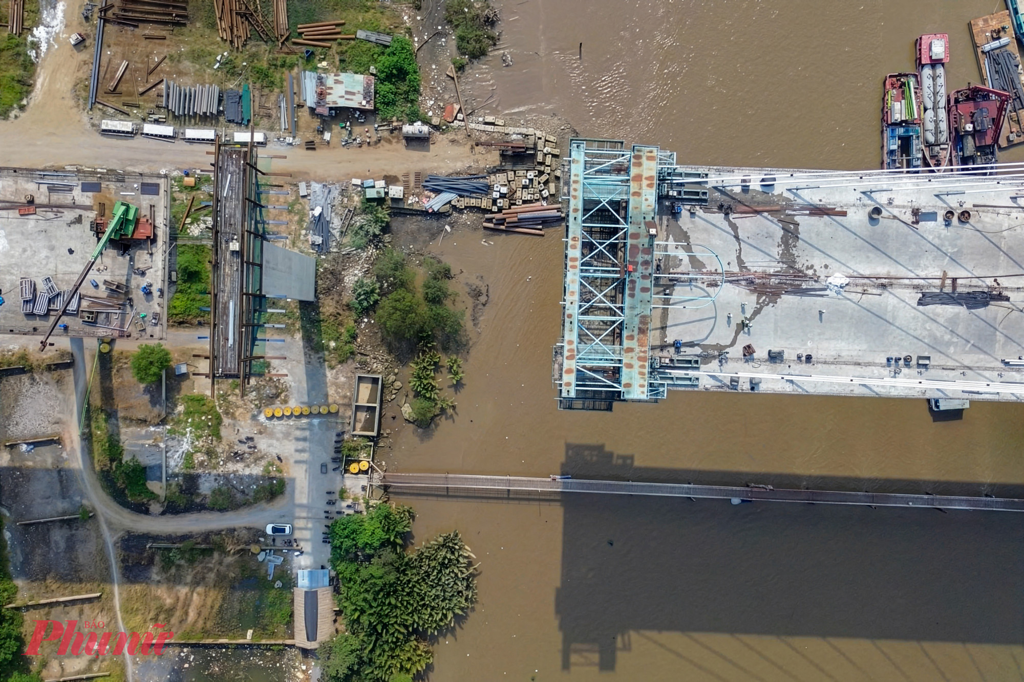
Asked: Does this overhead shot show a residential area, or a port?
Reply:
port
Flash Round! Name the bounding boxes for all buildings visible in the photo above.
[293,588,334,647]
[309,73,376,115]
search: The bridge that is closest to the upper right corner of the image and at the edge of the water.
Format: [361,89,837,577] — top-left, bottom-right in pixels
[650,161,1024,402]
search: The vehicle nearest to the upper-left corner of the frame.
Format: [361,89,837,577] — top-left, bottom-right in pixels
[71,32,88,48]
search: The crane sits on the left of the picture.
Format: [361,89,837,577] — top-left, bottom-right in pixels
[37,201,154,353]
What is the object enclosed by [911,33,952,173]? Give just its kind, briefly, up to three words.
ship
